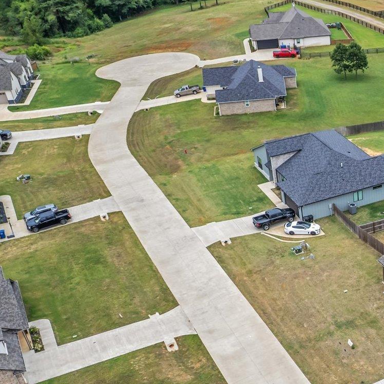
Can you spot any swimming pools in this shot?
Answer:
No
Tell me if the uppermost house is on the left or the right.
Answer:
right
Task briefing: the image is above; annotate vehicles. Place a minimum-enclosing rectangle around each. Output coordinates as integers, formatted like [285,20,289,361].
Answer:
[18,197,60,220]
[269,45,301,57]
[167,81,202,98]
[281,219,323,234]
[18,206,73,232]
[0,127,15,139]
[249,205,300,230]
